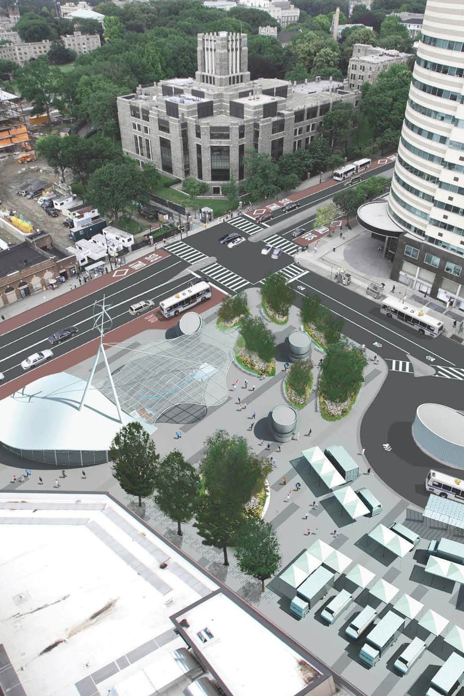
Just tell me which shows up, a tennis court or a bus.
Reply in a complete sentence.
The one in the frame is a bus.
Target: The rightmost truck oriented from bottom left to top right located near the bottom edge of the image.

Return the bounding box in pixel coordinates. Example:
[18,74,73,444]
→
[421,648,464,696]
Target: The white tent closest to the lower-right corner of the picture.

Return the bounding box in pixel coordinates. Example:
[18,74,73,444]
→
[438,621,464,656]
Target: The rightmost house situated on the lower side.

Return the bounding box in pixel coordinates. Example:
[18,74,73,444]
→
[400,400,464,471]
